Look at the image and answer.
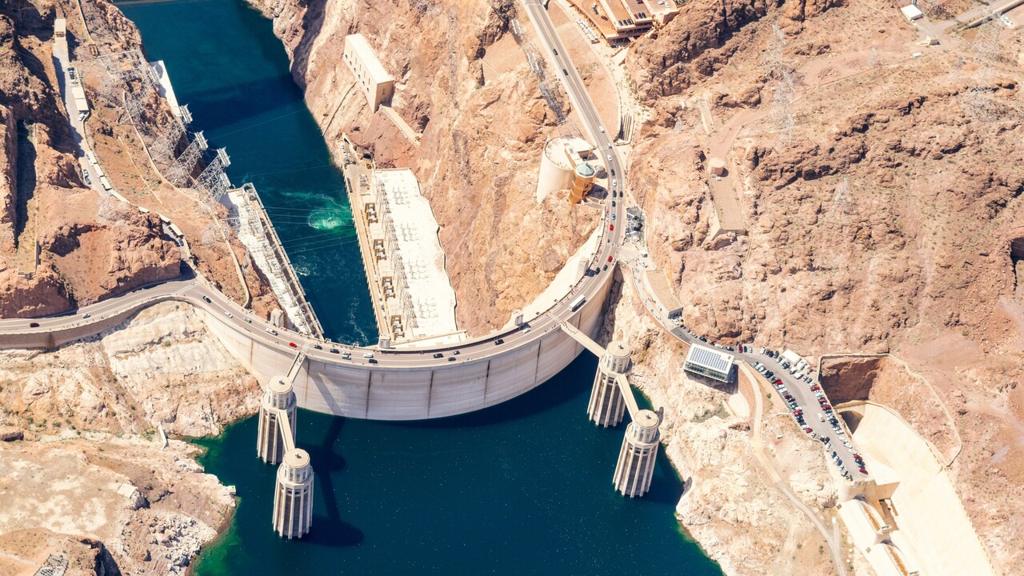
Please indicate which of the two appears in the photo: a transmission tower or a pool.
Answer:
transmission tower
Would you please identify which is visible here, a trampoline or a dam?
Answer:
dam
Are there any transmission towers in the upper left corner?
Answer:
Yes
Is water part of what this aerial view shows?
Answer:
Yes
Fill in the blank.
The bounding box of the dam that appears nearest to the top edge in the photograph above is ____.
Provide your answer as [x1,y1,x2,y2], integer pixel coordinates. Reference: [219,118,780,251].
[194,245,621,422]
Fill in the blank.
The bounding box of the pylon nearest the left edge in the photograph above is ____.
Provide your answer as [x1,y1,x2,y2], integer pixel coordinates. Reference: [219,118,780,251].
[94,184,116,222]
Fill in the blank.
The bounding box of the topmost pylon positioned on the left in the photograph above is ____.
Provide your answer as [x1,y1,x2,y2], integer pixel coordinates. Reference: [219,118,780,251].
[156,97,196,156]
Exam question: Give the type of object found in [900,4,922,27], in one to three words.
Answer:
shed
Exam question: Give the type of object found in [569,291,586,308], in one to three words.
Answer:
vehicle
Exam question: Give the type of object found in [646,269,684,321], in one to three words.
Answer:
building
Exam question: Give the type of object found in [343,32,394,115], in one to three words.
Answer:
building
